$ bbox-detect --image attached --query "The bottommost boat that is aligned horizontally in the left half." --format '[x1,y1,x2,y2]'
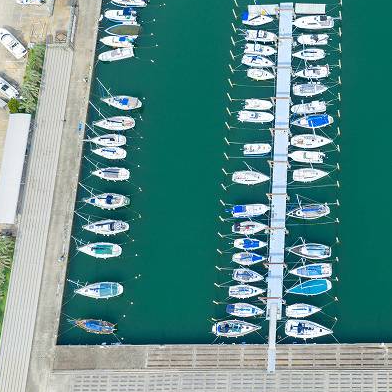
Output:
[57,312,121,337]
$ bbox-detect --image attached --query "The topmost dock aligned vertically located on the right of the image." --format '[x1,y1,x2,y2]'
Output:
[263,3,297,319]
